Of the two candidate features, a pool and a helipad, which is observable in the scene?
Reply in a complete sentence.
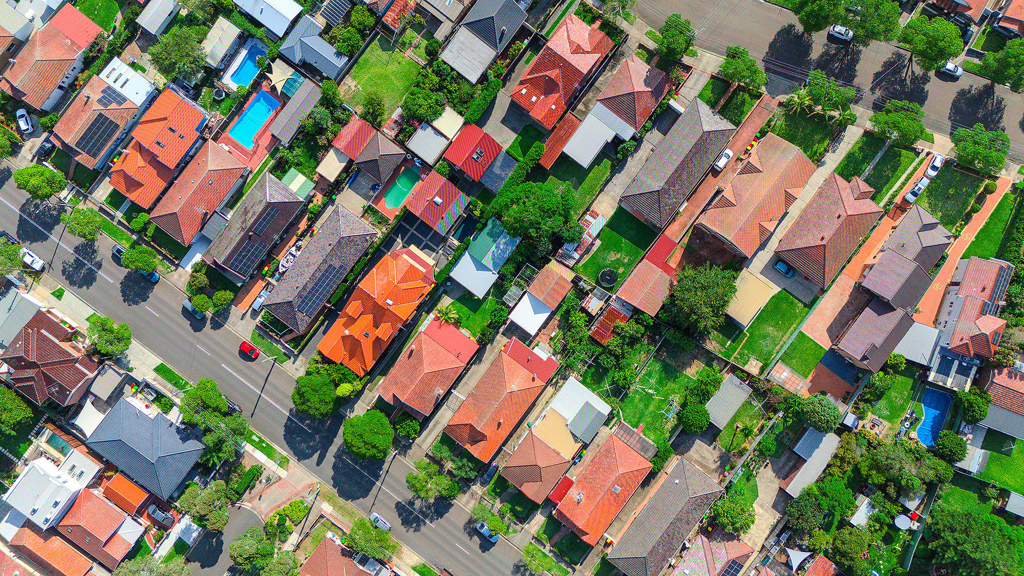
The image shows a pool.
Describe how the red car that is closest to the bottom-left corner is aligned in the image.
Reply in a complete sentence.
What the image shows is the red car that is closest to the bottom-left corner lying on a diagonal.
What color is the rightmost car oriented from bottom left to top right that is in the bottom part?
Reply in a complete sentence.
The rightmost car oriented from bottom left to top right that is in the bottom part is blue.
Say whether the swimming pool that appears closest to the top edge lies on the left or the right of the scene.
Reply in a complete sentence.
The swimming pool that appears closest to the top edge sits on the left side.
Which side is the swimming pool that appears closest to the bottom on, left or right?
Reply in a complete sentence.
The swimming pool that appears closest to the bottom appears in the left half of the scene.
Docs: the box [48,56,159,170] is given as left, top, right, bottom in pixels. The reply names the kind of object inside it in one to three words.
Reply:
house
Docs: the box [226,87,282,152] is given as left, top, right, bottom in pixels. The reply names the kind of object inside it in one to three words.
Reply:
swimming pool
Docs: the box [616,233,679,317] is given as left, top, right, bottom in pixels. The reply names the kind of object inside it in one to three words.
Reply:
shed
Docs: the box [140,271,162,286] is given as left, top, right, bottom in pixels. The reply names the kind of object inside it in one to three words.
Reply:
car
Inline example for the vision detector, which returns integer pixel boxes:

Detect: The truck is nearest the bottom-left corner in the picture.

[144,501,177,527]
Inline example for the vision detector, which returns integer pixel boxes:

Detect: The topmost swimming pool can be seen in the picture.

[228,43,269,90]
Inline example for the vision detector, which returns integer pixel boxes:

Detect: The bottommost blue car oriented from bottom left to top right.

[478,459,503,487]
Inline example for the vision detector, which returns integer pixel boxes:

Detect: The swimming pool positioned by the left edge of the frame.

[41,430,76,460]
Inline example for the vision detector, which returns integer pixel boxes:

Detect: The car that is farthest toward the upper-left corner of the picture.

[17,107,35,137]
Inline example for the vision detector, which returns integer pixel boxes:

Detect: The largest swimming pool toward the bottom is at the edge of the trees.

[915,386,954,447]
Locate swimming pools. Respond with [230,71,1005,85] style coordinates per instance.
[226,87,282,152]
[448,209,481,245]
[915,386,954,447]
[228,43,269,90]
[382,162,422,211]
[41,430,76,460]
